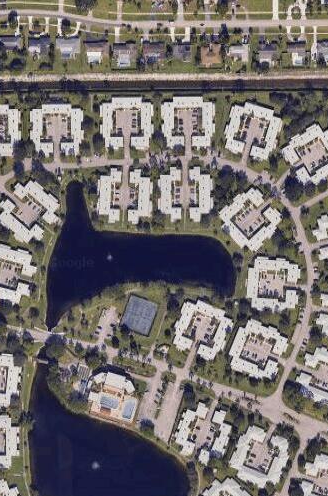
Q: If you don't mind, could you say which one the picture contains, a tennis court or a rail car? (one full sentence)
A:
The one in the frame is a tennis court.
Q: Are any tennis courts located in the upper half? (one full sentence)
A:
No, in the upper half there is no tennis court.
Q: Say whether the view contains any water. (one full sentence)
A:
Yes, there is water in the image.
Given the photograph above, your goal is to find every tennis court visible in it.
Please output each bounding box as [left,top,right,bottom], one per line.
[121,295,157,336]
